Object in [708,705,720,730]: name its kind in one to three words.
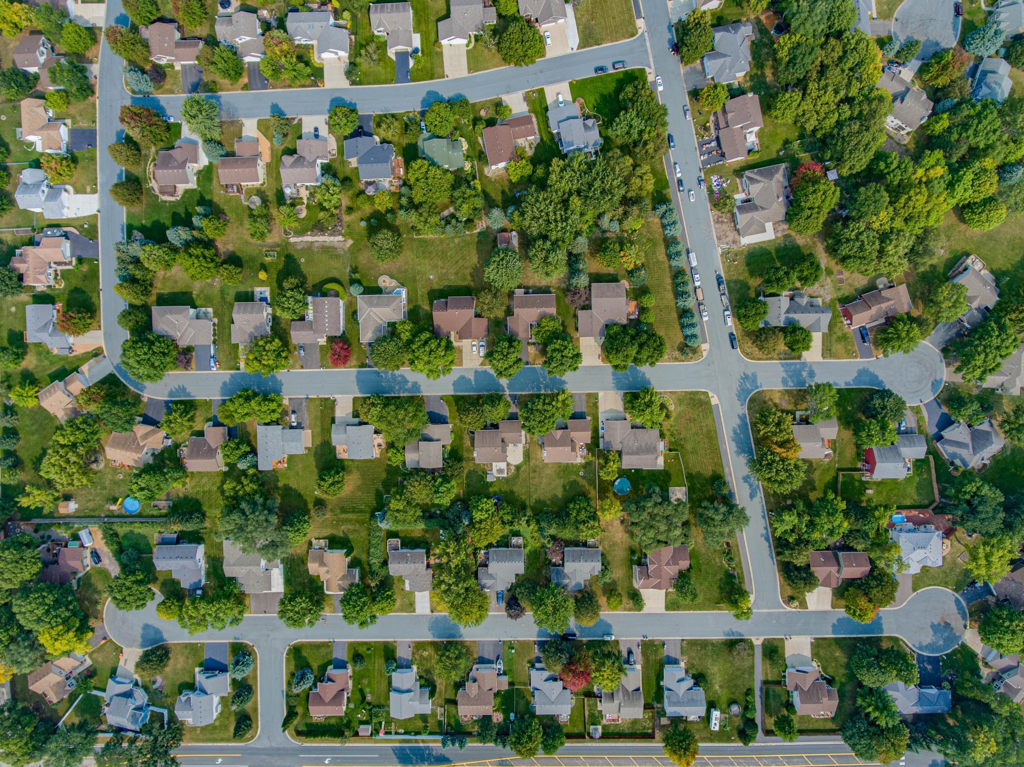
vehicle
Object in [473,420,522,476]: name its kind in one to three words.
house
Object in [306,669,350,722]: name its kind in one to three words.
house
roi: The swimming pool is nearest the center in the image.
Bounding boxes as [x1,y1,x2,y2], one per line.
[613,477,631,495]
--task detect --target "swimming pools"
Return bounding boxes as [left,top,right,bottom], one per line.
[123,495,142,514]
[613,477,631,495]
[891,513,907,523]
